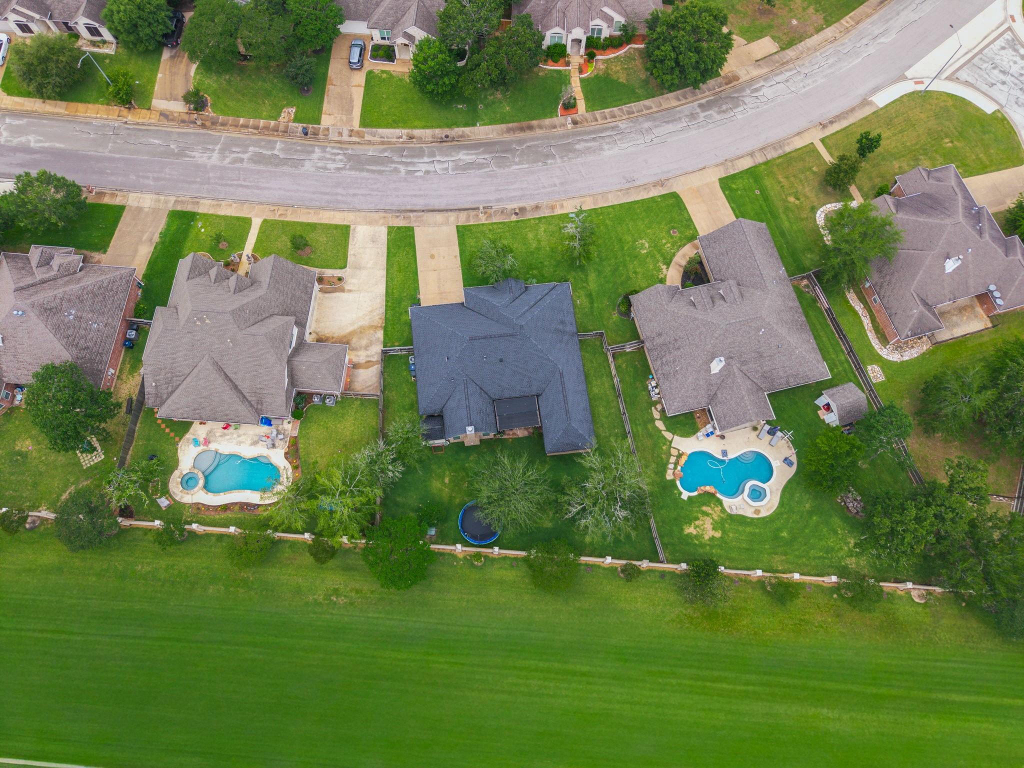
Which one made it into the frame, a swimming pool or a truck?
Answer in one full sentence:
I can see a swimming pool in this picture.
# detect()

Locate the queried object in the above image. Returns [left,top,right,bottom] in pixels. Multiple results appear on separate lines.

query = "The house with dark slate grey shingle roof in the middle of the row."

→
[409,278,596,457]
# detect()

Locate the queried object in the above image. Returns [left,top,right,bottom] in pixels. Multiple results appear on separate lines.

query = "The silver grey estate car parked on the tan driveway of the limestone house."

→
[345,38,364,70]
